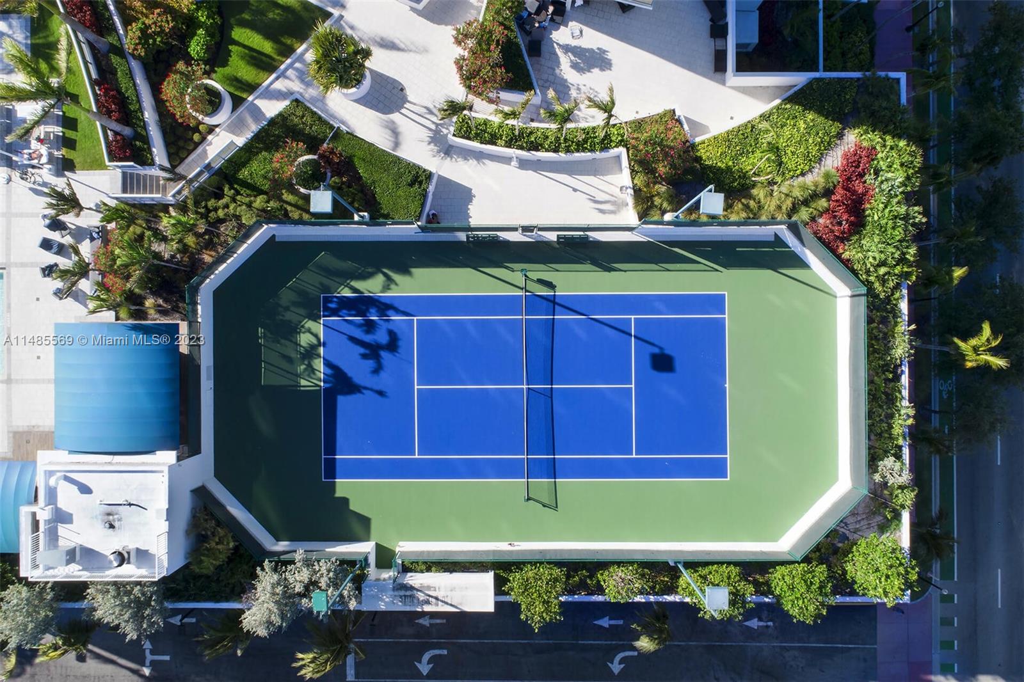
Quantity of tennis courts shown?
1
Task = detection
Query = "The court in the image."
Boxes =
[213,229,839,571]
